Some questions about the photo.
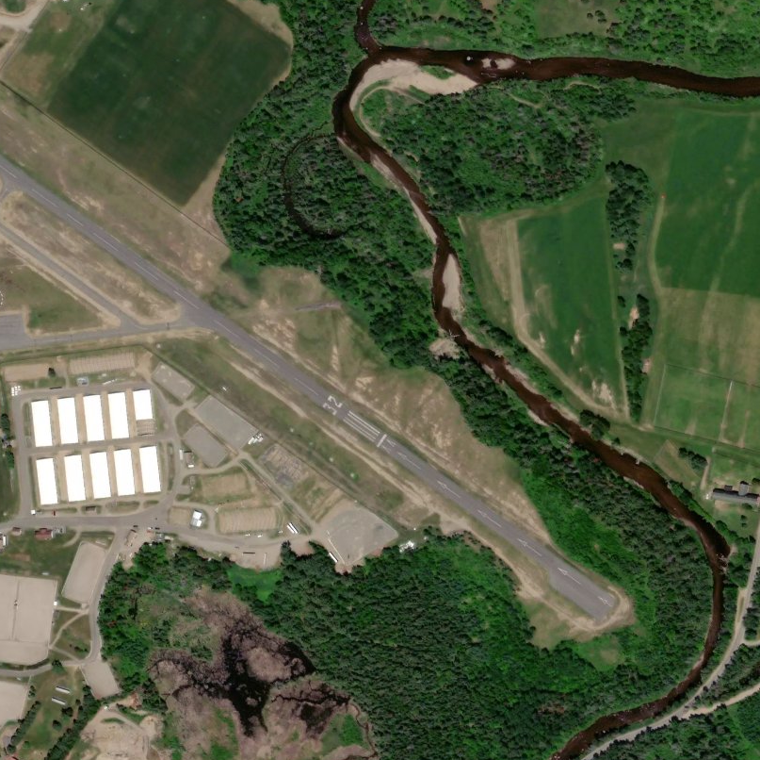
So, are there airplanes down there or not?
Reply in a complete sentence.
No, no airplane can be seen from above.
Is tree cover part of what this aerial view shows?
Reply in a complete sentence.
Yes, there is tree cover in the image.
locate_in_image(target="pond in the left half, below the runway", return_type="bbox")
[173,623,376,760]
